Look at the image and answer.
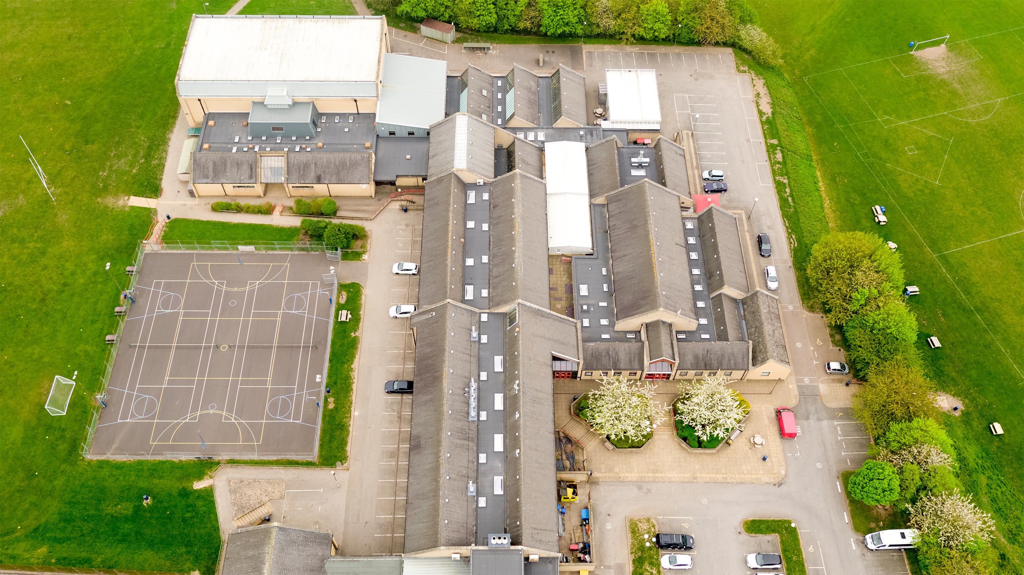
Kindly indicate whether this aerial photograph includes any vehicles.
Yes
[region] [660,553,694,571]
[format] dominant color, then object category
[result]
white car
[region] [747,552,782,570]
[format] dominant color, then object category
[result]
white car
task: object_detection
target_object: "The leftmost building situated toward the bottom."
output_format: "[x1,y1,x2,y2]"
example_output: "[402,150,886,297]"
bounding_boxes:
[221,524,339,575]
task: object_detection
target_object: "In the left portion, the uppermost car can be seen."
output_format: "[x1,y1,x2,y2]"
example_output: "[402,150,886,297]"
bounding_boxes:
[392,262,419,277]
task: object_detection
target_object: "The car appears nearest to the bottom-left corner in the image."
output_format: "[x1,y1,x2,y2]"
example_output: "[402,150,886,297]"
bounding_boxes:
[385,379,413,396]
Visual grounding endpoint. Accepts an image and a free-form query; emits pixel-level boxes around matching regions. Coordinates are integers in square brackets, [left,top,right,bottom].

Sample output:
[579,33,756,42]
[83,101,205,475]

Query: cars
[660,553,694,571]
[764,264,779,291]
[654,533,695,552]
[747,552,782,570]
[385,379,413,396]
[392,262,419,277]
[389,304,416,319]
[702,170,725,182]
[757,232,772,257]
[703,181,728,193]
[755,570,787,575]
[824,361,849,375]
